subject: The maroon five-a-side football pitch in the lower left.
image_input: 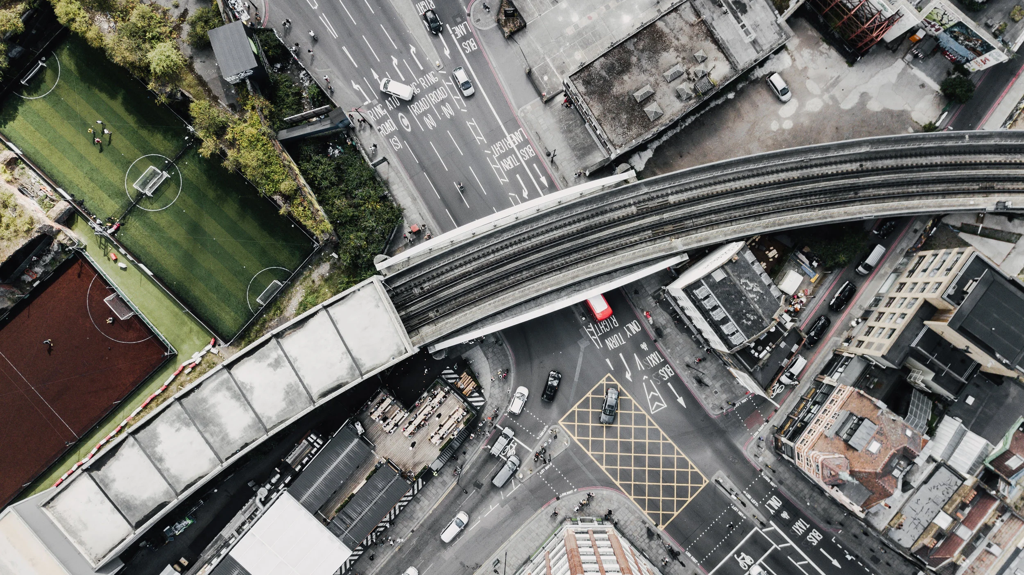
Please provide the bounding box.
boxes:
[0,252,173,505]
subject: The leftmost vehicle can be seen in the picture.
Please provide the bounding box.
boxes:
[156,503,201,545]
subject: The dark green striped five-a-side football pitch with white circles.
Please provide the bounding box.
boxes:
[0,27,316,342]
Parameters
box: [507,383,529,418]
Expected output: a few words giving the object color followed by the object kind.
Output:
white car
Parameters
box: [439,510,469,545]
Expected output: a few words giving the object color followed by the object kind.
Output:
white car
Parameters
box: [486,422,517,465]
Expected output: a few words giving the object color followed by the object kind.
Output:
white truck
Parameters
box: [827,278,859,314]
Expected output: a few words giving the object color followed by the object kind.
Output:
black car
